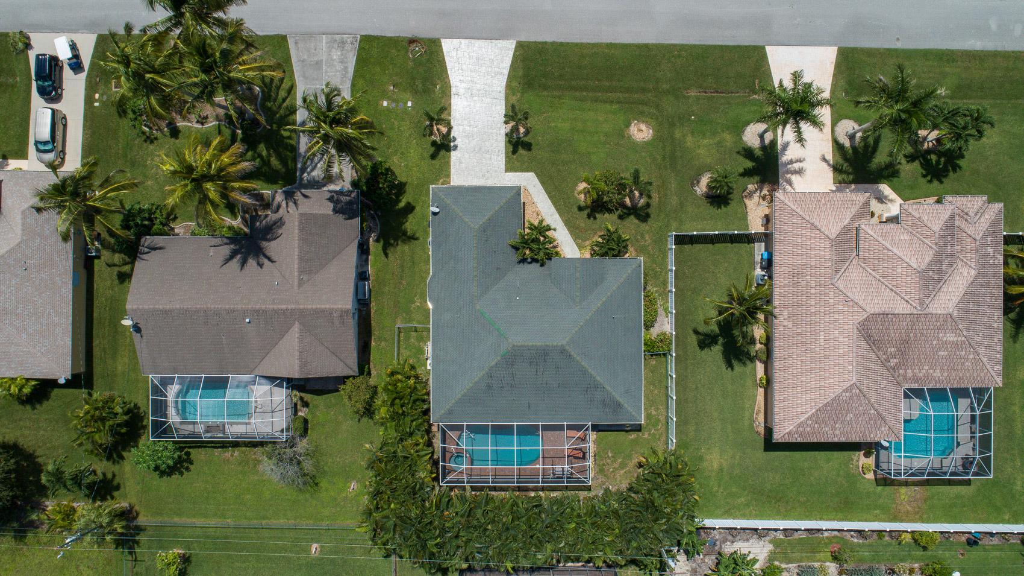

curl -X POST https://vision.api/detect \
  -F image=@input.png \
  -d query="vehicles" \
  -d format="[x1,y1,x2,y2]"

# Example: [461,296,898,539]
[34,51,65,101]
[32,106,67,167]
[57,38,89,72]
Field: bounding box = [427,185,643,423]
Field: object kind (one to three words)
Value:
house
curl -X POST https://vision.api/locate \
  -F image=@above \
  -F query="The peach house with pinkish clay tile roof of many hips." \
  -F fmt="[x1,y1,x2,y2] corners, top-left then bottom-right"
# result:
[766,191,1004,443]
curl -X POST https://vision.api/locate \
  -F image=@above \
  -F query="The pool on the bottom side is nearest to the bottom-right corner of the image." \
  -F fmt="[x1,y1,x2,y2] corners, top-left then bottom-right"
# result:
[904,390,960,460]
